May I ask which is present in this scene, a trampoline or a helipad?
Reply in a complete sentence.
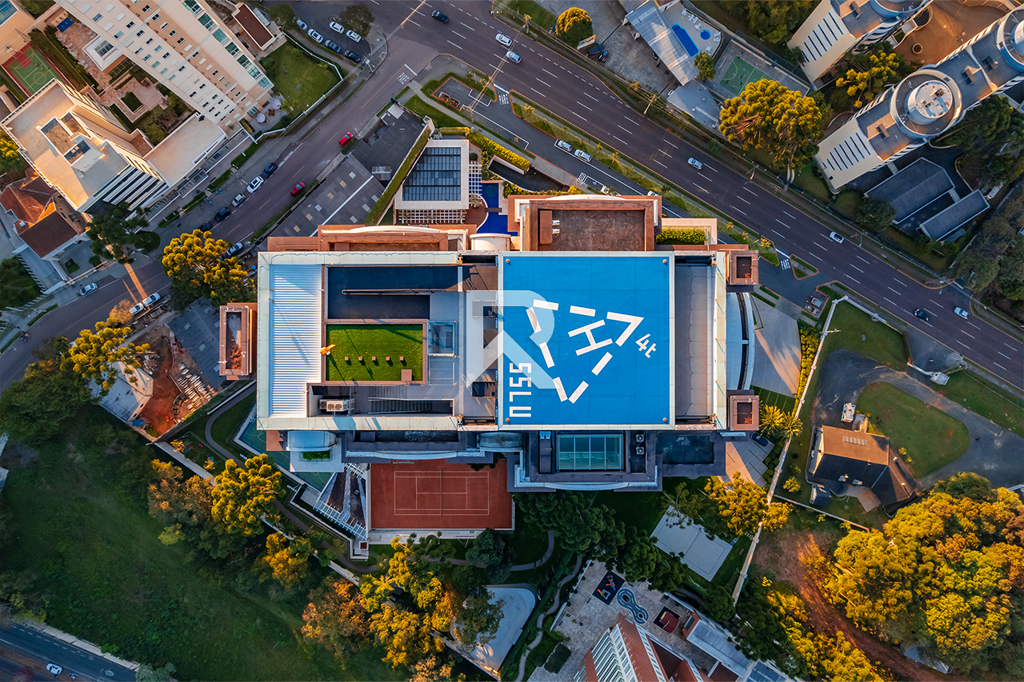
This aerial view contains a helipad.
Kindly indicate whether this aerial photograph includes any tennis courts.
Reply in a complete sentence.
Yes, the frame does contain a tennis court.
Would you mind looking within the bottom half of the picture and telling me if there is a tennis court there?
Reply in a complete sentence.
Yes, there is a tennis court within the bottom half of the picture.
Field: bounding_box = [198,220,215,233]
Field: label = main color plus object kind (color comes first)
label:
black vehicle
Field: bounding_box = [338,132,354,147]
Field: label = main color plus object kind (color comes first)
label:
red car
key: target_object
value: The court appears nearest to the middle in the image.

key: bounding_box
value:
[371,457,514,527]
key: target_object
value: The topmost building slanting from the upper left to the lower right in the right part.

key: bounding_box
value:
[623,0,700,89]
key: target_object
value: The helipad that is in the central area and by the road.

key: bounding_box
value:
[498,251,675,430]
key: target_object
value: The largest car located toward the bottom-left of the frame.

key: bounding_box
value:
[45,662,63,674]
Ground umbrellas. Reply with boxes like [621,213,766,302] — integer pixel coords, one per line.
[256,114,266,123]
[272,100,281,110]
